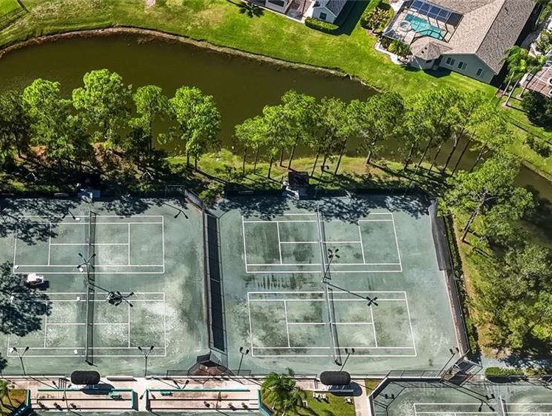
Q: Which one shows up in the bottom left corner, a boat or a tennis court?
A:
tennis court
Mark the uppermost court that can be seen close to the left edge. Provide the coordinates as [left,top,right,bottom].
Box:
[0,195,206,283]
